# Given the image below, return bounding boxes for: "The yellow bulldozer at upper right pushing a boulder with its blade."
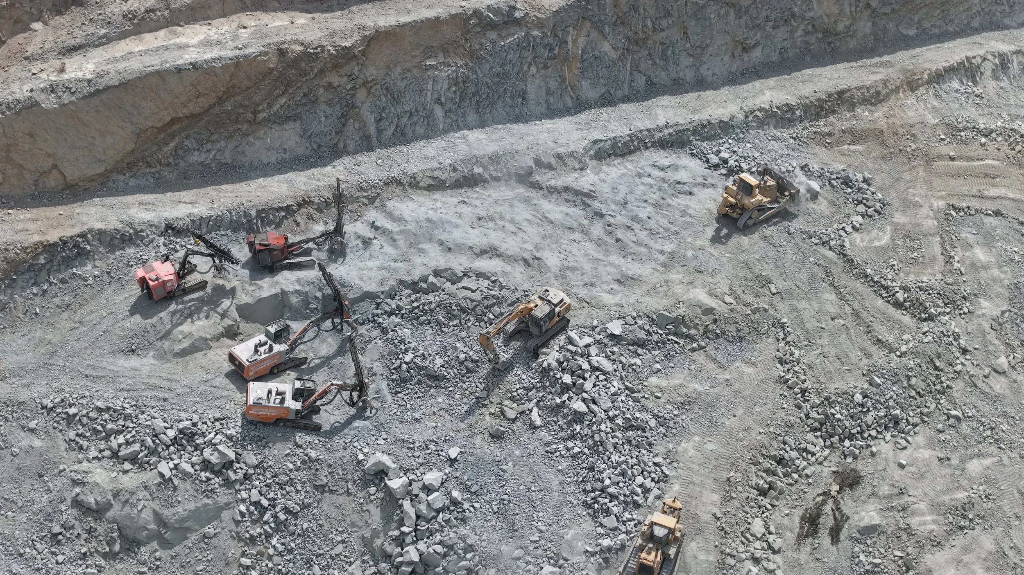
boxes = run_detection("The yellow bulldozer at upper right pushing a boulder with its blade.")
[717,165,802,231]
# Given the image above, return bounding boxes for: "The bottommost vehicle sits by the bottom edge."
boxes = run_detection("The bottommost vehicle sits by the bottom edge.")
[626,499,687,575]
